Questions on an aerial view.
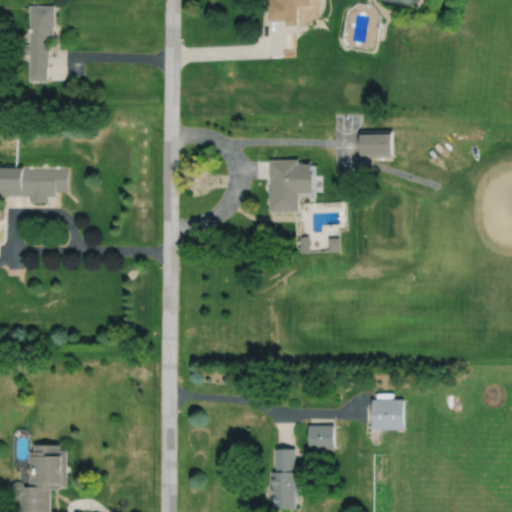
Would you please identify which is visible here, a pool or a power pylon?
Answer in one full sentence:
The image shows a pool.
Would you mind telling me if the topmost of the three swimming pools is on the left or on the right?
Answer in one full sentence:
It is on the right.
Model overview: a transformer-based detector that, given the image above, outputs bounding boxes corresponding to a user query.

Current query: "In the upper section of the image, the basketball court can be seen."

[336,114,363,137]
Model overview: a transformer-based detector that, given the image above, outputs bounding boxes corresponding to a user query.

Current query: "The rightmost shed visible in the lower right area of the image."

[370,400,405,431]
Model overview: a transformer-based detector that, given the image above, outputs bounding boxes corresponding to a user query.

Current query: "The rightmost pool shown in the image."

[345,3,380,51]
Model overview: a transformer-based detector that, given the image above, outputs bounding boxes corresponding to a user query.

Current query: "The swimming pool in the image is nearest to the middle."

[302,202,348,252]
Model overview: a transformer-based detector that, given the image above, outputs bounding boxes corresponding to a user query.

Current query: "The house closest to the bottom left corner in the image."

[20,446,70,512]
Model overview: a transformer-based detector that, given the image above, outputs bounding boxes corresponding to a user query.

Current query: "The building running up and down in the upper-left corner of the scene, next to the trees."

[25,6,56,82]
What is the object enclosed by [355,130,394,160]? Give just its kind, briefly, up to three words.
barn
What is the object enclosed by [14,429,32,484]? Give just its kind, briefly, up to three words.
swimming pool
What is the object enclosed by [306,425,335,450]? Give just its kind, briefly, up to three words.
building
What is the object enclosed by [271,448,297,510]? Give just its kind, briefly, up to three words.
house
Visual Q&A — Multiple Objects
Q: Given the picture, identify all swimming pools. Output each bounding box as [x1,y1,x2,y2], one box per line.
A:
[345,3,380,51]
[302,202,348,252]
[14,429,32,484]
